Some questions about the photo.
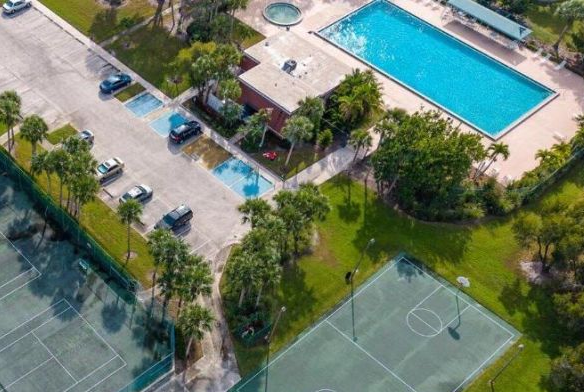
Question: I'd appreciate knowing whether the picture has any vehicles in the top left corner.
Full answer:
Yes, I can see a vehicle in the top left corner.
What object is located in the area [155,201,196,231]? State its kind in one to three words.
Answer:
car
